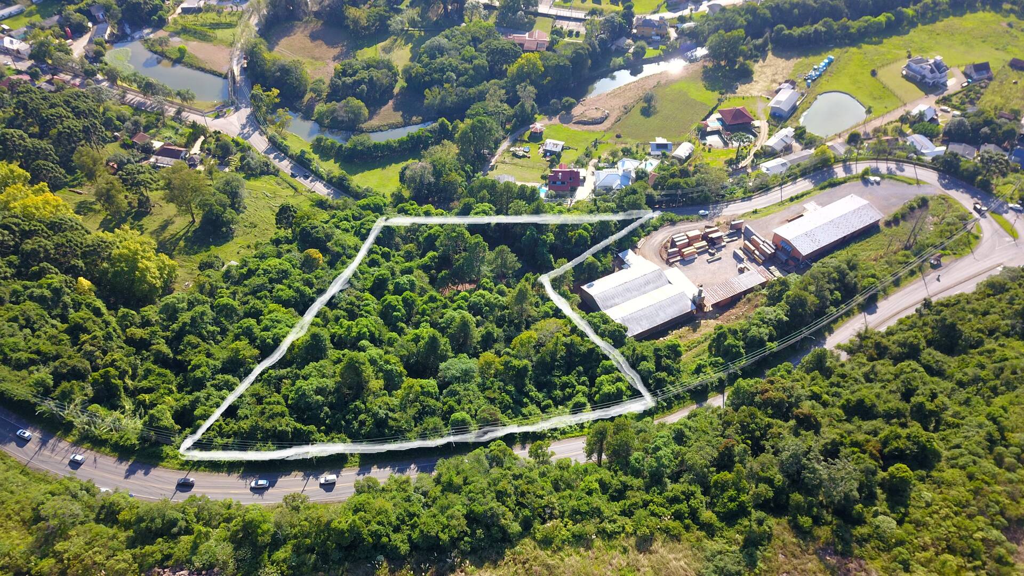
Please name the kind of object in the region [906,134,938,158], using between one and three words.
house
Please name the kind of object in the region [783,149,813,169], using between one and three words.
building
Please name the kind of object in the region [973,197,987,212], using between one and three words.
vehicle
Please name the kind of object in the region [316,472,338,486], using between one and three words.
vehicle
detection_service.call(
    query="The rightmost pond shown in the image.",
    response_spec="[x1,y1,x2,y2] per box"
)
[798,91,868,137]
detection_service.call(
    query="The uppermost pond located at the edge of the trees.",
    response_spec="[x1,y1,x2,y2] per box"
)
[103,42,232,104]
